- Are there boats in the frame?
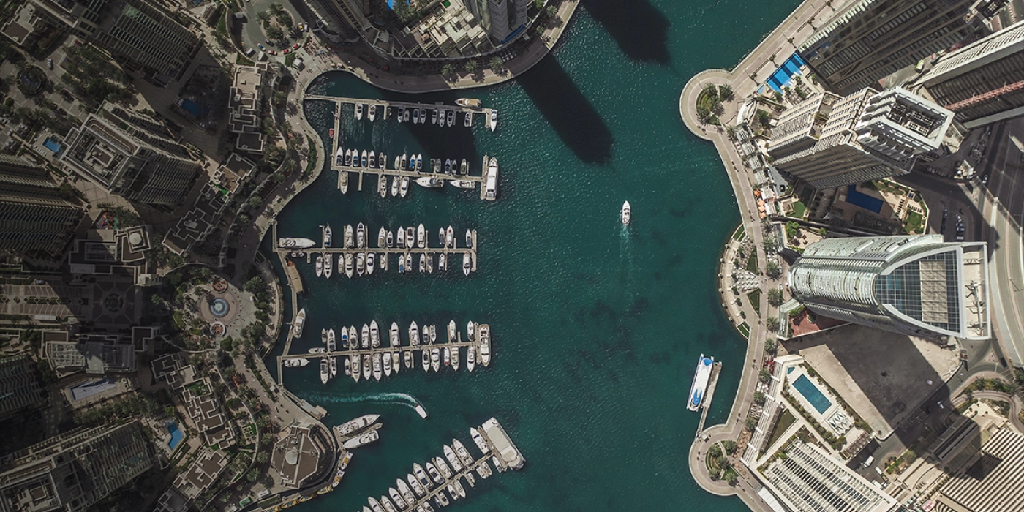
Yes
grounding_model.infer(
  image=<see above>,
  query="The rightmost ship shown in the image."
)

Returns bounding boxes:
[687,355,713,410]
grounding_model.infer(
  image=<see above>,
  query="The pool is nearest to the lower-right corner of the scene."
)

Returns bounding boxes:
[792,372,834,416]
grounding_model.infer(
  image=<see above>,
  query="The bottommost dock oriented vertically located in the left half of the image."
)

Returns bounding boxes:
[275,252,298,356]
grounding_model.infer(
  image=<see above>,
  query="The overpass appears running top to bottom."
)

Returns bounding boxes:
[986,117,1024,396]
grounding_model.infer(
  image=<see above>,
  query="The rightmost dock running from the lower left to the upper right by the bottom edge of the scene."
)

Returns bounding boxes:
[391,427,506,512]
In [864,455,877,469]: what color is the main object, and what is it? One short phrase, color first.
white vehicle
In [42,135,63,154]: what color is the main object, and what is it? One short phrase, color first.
blue swimming pool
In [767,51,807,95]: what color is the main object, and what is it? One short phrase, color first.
blue swimming pool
